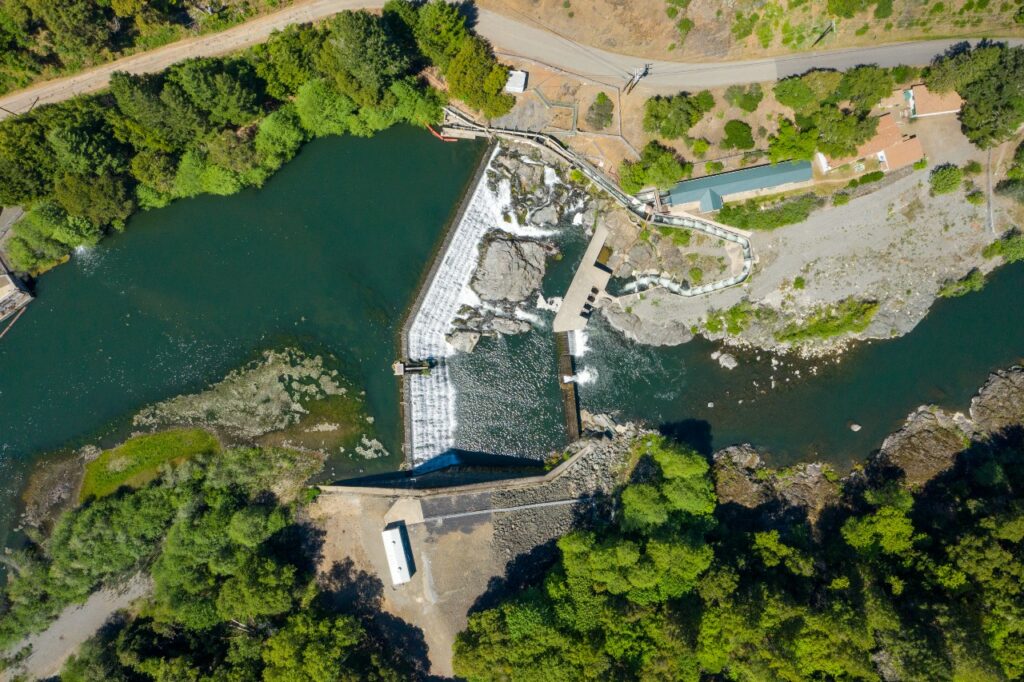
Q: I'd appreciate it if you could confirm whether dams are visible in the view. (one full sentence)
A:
Yes, I can see a dam in this picture.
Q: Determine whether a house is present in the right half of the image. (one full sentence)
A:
Yes, a house shows up in the right half of the image.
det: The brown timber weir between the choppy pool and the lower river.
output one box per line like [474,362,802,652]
[555,333,580,442]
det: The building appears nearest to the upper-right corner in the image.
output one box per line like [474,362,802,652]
[907,86,966,124]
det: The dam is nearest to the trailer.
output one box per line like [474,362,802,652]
[403,140,510,484]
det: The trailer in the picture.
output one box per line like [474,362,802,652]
[382,525,413,586]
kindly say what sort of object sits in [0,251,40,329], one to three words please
house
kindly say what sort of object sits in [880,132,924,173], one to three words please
house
